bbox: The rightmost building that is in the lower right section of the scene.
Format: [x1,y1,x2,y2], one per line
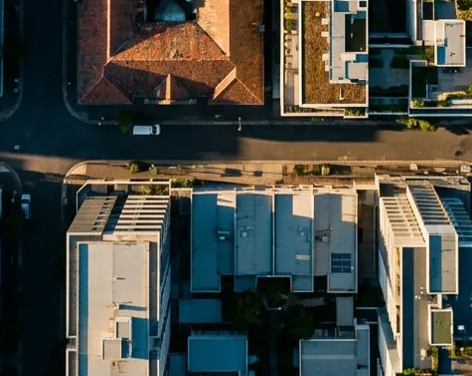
[381,195,472,376]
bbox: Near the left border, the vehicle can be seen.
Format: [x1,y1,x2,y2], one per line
[19,194,31,219]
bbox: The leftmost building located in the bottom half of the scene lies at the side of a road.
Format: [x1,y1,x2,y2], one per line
[64,195,173,376]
